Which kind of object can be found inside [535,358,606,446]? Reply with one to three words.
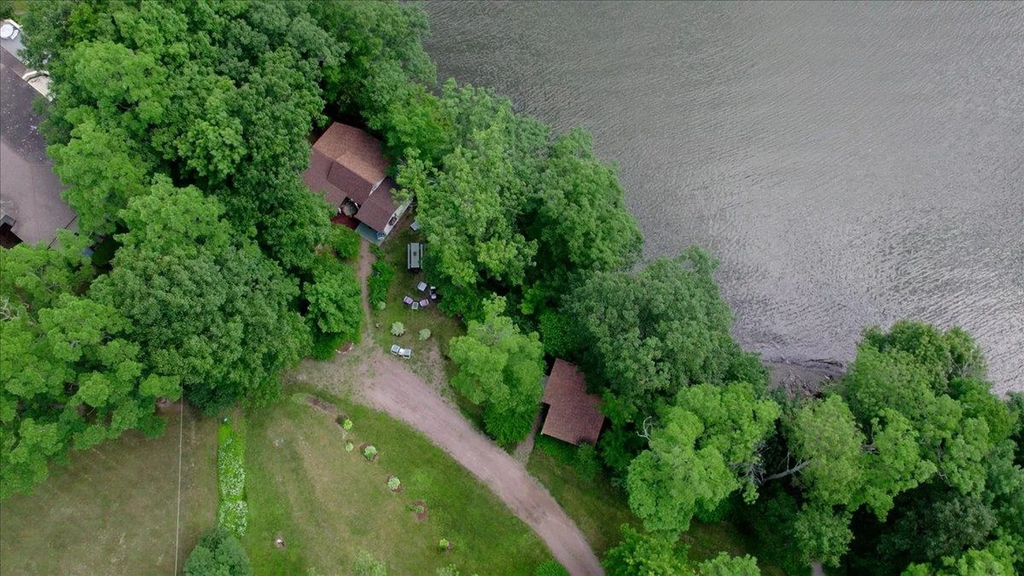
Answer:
building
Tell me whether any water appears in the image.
Yes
